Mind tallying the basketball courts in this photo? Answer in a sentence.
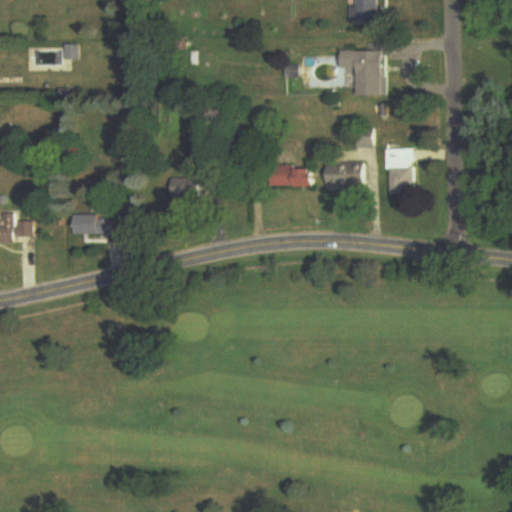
No basketball courts are visible.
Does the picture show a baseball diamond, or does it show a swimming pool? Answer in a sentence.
Visible in the photo is a swimming pool.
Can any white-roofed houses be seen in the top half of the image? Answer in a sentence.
Yes, a white-roofed house shows up in the top half of the image.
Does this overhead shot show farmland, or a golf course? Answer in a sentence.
It's a golf course.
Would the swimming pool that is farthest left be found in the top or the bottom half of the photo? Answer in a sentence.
Seen from above, the swimming pool that is farthest left lies in the top half of the view.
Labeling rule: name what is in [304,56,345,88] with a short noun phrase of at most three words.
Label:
swimming pool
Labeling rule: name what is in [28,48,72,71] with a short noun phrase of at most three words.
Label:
swimming pool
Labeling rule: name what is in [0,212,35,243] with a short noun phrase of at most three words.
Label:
house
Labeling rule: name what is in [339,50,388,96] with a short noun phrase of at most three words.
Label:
house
